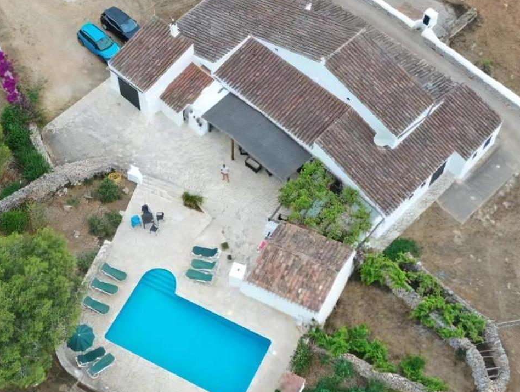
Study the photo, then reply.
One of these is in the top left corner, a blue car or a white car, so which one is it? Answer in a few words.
blue car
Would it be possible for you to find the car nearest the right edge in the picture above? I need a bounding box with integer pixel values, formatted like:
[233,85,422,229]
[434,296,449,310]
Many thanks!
[101,9,139,46]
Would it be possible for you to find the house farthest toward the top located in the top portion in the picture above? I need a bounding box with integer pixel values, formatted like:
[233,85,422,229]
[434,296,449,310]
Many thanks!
[108,0,502,241]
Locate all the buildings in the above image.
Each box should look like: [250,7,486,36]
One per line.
[246,222,355,323]
[108,0,502,241]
